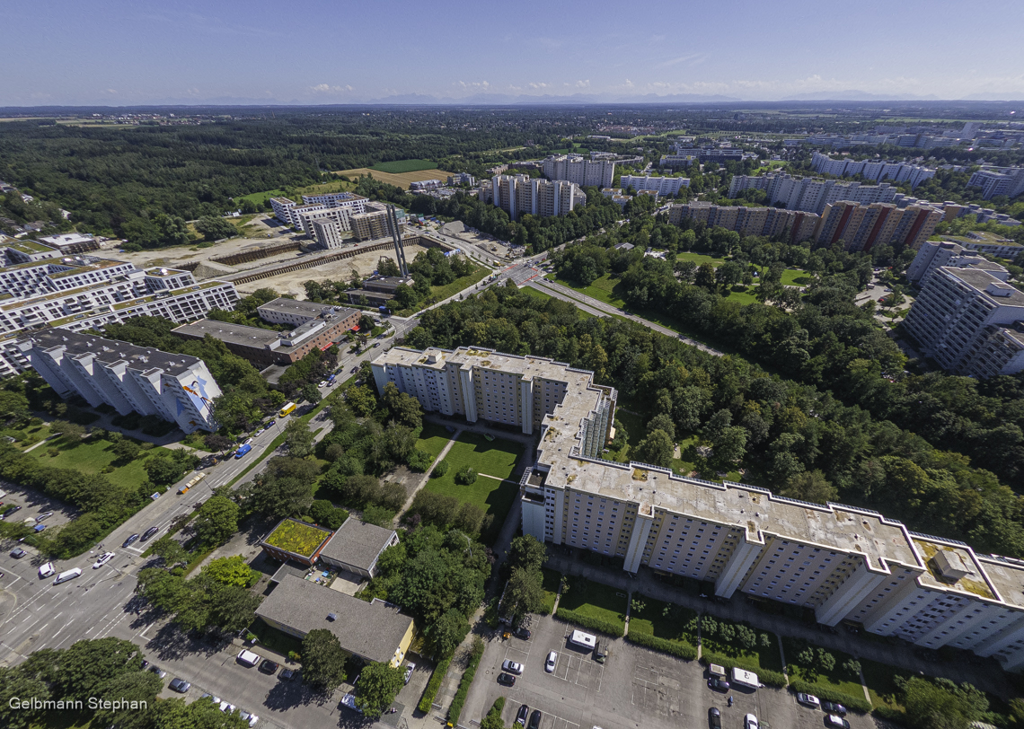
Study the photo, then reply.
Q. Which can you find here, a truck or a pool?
truck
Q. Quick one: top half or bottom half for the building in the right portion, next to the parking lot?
bottom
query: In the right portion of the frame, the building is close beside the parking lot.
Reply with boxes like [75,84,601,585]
[371,346,1024,672]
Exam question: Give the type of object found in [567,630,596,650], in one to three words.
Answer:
camper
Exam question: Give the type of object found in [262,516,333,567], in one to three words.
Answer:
house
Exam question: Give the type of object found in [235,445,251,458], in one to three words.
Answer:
vehicle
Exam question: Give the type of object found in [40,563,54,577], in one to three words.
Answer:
car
